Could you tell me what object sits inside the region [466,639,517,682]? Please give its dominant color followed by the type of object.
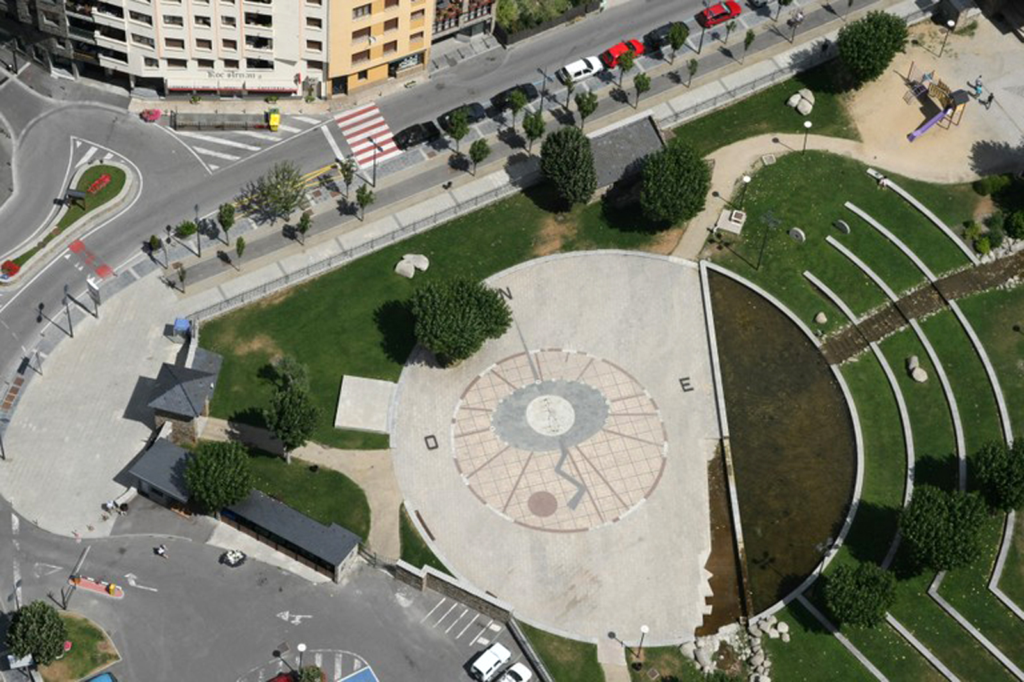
white car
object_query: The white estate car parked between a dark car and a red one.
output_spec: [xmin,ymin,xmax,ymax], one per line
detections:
[555,52,605,83]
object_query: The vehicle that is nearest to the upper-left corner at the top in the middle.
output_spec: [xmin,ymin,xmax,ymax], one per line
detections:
[391,118,442,150]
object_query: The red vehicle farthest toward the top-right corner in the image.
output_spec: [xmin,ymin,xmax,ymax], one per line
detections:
[695,0,745,27]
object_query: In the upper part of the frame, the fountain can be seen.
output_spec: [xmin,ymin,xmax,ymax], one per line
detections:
[715,208,747,233]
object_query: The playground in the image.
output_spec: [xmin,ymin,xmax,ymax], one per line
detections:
[672,11,1024,261]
